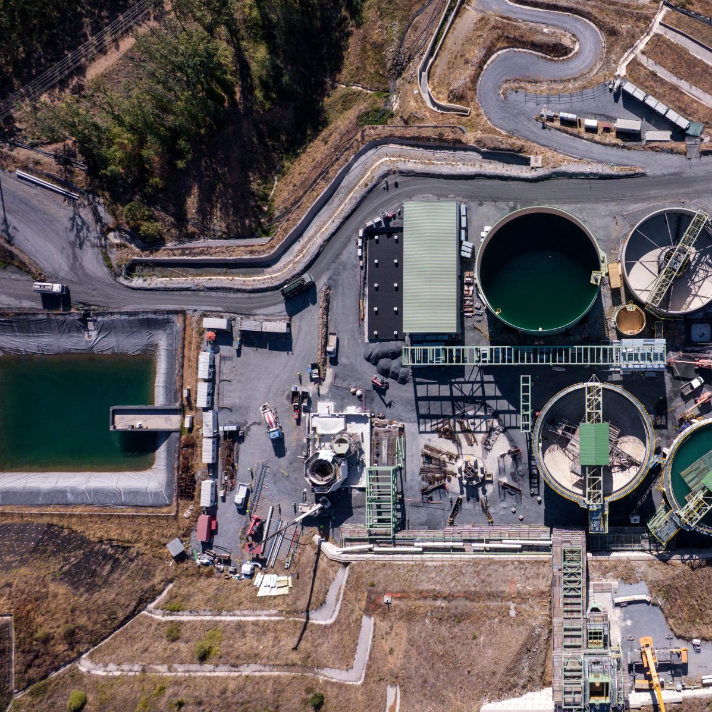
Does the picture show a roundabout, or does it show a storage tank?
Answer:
storage tank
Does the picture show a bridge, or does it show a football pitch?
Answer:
bridge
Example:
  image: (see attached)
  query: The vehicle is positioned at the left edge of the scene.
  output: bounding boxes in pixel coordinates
[31,282,70,295]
